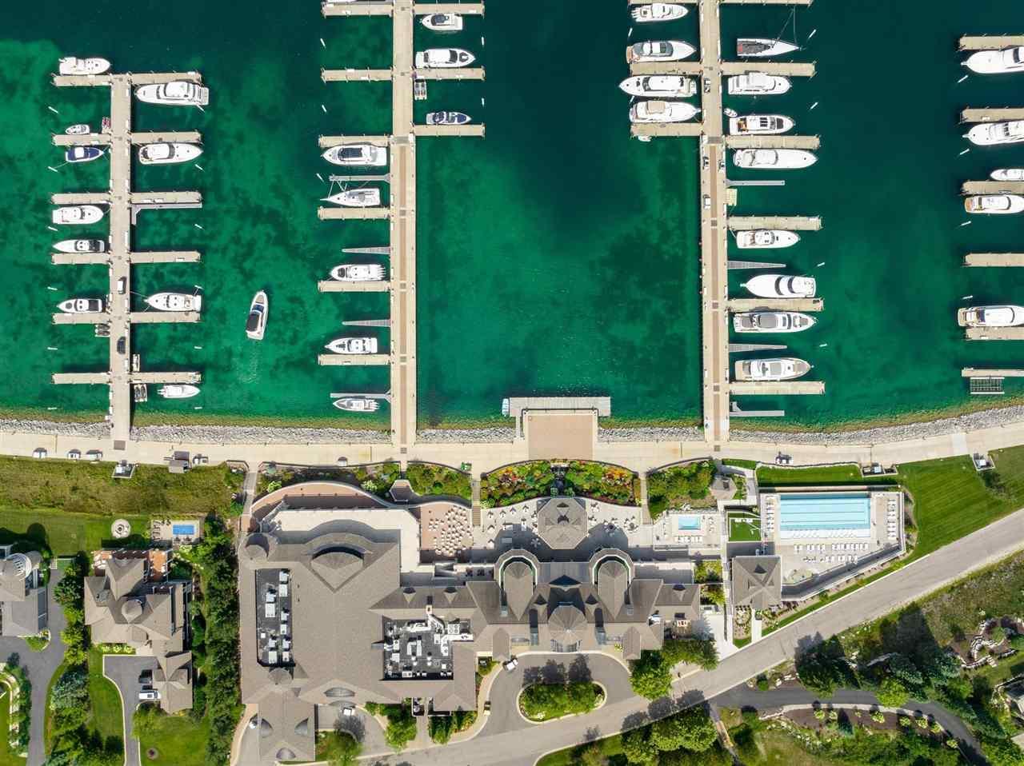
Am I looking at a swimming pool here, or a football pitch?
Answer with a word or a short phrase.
swimming pool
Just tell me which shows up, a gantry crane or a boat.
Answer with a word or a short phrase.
boat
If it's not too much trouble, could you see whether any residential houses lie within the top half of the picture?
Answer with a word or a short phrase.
No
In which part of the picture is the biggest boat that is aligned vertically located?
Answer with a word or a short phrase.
left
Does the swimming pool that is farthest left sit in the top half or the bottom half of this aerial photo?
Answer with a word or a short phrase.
bottom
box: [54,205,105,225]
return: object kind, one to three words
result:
boat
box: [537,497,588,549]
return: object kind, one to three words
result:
building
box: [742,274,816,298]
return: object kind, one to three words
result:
boat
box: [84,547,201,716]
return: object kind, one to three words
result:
house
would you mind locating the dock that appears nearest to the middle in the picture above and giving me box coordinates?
[509,397,610,433]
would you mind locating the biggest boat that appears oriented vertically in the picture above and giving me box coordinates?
[246,291,268,340]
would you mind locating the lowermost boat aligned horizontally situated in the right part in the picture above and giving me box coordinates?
[734,357,814,381]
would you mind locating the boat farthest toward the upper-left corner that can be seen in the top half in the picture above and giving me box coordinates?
[60,57,112,75]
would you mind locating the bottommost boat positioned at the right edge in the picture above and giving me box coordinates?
[955,304,1024,328]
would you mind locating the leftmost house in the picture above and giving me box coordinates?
[0,542,52,638]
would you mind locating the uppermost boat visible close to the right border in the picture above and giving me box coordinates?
[963,47,1024,76]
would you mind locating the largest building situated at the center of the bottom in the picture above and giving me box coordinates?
[238,494,700,762]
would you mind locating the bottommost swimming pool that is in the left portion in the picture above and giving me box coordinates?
[151,519,200,545]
